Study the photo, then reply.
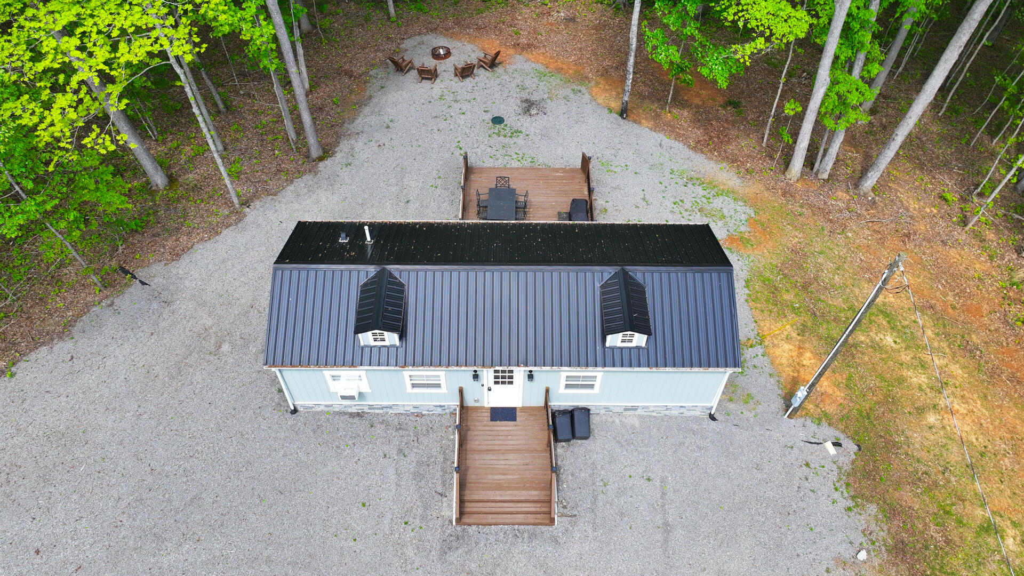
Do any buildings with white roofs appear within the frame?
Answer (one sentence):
No, no building with a white roof is visible in the view.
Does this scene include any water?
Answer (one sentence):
No, the scene doesn't show any water.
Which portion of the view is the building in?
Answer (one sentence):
The building appears toward the center of the photo.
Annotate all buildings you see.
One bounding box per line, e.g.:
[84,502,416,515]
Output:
[263,219,742,421]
